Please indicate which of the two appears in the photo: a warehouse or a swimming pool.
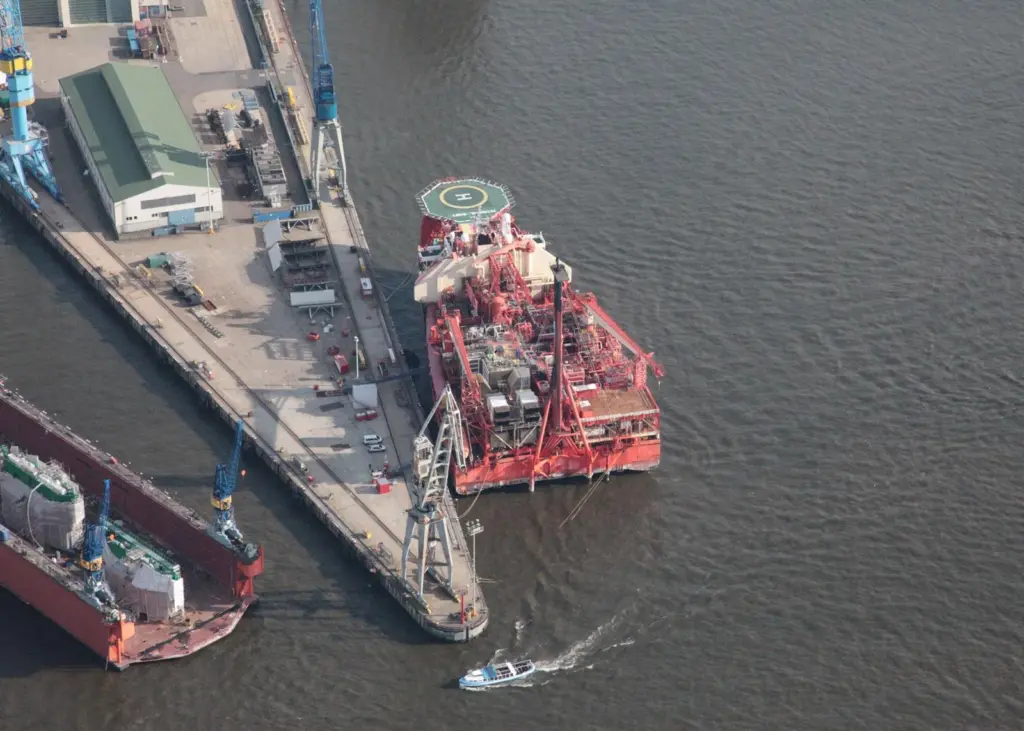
warehouse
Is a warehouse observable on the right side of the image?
No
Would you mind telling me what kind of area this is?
port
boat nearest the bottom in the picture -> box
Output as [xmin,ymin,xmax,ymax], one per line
[460,655,538,688]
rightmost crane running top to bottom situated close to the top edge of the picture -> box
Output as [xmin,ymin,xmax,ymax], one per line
[305,0,350,198]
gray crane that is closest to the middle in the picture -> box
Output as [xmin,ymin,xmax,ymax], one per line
[397,385,471,613]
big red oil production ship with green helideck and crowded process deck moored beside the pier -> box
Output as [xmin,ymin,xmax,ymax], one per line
[407,175,667,494]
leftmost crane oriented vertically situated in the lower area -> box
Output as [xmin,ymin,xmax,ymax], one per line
[67,479,118,617]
